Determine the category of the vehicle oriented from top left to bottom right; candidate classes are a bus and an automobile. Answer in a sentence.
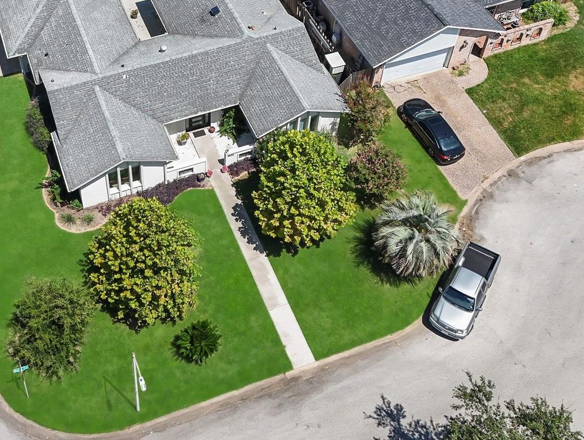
From above, the vehicle oriented from top left to bottom right can be identified as an automobile.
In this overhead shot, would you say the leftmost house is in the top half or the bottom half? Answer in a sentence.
You can find the leftmost house in the top half.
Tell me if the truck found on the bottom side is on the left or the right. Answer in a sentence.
The truck found on the bottom side sits on the right side.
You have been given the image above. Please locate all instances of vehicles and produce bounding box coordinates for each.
[400,100,465,165]
[430,243,498,343]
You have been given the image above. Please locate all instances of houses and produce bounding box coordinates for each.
[308,0,551,86]
[0,0,351,204]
